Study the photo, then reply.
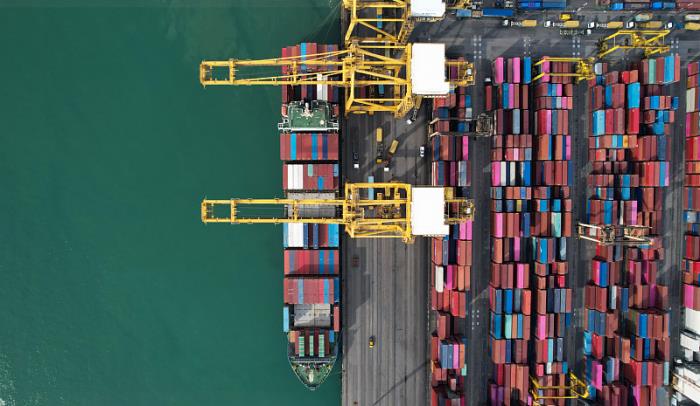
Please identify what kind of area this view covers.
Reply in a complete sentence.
This image shows a port.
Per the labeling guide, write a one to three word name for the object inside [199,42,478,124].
container crane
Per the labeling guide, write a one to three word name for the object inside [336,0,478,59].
container crane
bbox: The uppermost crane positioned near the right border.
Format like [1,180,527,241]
[594,27,669,59]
